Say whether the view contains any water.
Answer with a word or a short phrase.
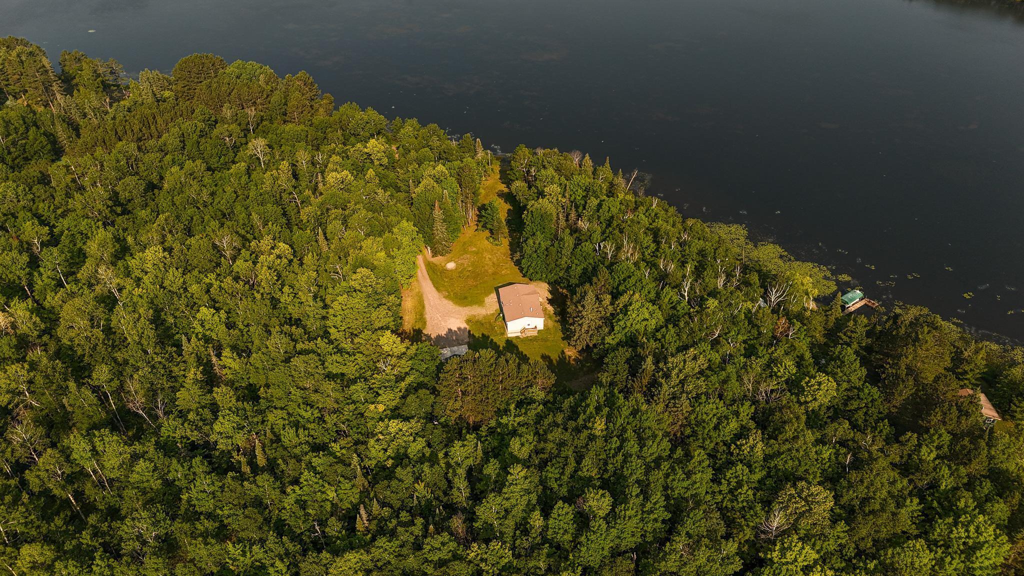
Yes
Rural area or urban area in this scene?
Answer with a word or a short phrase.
rural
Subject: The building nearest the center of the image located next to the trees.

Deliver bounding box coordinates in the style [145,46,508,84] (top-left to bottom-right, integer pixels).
[495,283,546,340]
